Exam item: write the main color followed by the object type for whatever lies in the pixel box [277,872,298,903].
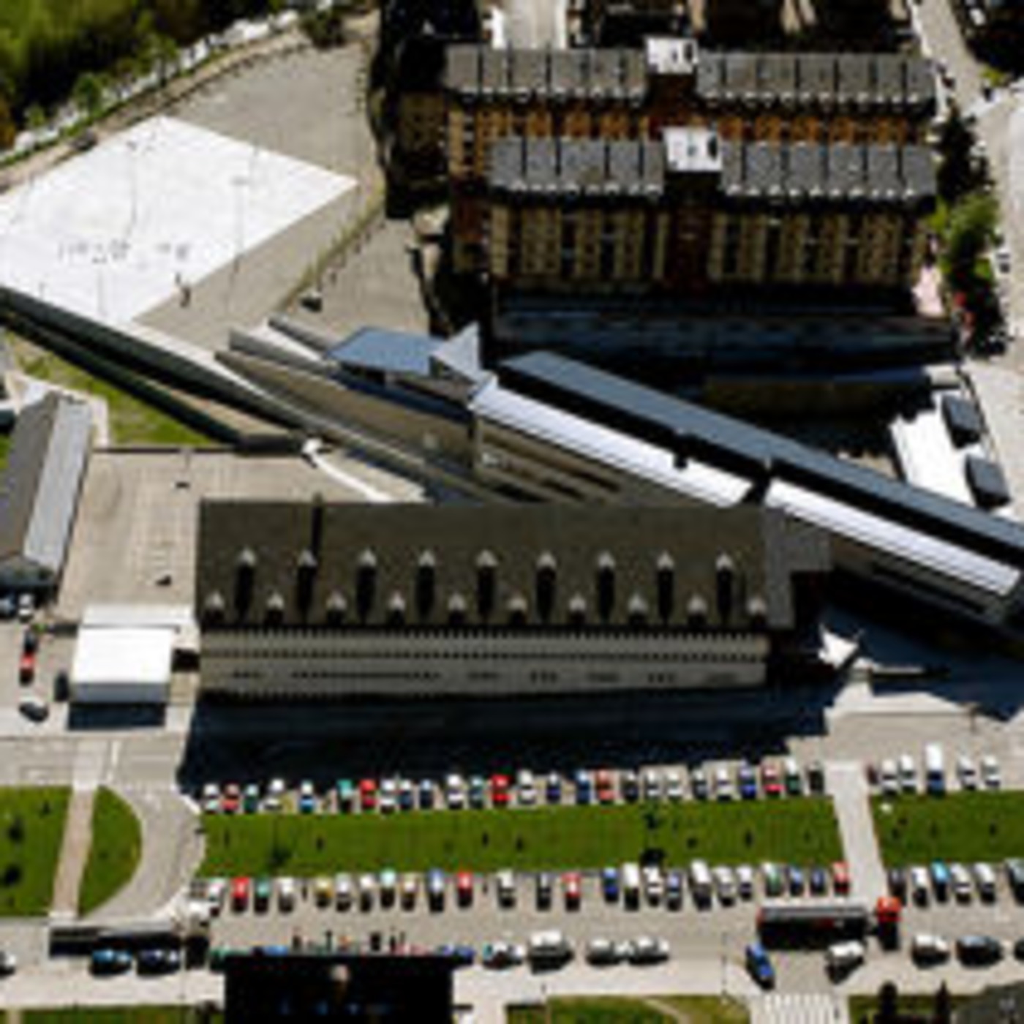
white car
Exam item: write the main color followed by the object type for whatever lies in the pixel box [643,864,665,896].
white car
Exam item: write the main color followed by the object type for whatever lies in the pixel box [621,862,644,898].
white vehicle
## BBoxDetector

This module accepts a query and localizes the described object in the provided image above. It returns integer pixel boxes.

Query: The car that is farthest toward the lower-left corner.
[0,947,23,968]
